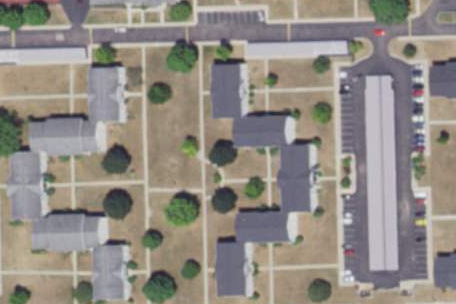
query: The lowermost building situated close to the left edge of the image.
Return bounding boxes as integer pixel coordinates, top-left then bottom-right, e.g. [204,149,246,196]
[6,66,136,300]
